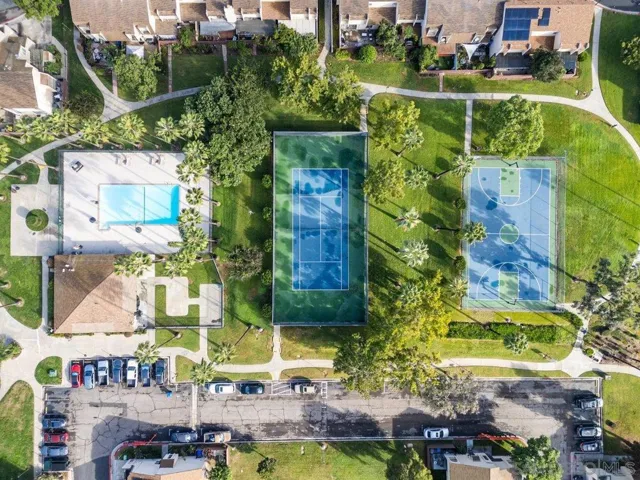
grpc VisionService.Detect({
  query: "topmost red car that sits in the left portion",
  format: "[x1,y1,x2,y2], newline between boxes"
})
[69,362,83,388]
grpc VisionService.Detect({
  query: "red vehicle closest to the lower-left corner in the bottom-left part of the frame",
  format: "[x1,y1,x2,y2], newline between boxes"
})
[44,431,71,444]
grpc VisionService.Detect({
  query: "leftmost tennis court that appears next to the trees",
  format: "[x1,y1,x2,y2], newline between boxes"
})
[274,134,366,323]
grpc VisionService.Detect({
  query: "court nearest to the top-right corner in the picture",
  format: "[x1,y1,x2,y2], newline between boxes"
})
[461,159,558,309]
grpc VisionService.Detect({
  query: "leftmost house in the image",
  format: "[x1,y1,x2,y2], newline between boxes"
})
[0,24,65,122]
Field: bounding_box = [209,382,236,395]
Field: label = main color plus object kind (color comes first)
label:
white vehicle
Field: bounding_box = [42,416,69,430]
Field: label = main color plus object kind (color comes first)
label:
blue vehicle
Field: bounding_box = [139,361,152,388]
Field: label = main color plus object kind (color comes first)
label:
blue vehicle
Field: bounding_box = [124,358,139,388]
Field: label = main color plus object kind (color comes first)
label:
white vehicle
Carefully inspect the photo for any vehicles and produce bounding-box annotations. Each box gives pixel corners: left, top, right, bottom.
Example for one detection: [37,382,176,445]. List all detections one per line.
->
[41,444,69,458]
[44,431,71,444]
[69,362,83,388]
[204,429,232,443]
[575,425,603,439]
[293,382,318,395]
[577,439,602,454]
[82,362,97,390]
[172,429,199,442]
[574,397,603,411]
[96,358,111,387]
[43,457,71,471]
[209,382,236,395]
[42,416,69,430]
[124,358,139,388]
[153,359,166,386]
[139,361,152,388]
[422,426,449,439]
[111,358,124,384]
[239,382,265,395]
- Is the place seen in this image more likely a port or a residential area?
residential area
